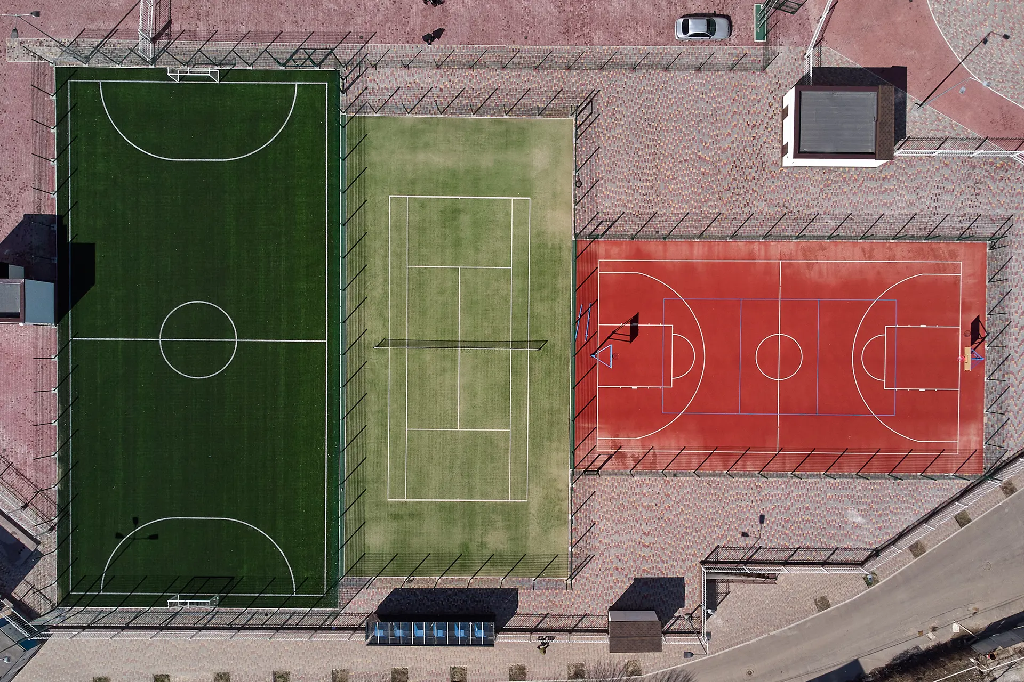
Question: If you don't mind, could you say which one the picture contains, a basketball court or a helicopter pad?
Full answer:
The one in the frame is a basketball court.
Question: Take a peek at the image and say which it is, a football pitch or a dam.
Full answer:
There is a football pitch in the scene.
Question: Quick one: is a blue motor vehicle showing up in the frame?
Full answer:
No, the photo shows no blue motor vehicle.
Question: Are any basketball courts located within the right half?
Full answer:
Yes, you'll find a basketball court within the right half.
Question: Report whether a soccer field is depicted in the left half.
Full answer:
Yes, a soccer field is visible in the left half.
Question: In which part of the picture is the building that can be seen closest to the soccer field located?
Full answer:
You can find the building that can be seen closest to the soccer field in the left area of the picture.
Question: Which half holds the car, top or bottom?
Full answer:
The car sits in the top half of the picture.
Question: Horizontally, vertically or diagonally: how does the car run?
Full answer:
In this picture, the car lies horizontally.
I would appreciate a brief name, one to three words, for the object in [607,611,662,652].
shed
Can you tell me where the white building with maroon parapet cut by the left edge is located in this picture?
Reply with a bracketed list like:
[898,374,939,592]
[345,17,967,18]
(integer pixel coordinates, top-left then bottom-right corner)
[0,278,56,326]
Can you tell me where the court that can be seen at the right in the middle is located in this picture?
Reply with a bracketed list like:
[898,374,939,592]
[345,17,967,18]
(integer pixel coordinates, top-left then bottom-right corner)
[573,240,987,474]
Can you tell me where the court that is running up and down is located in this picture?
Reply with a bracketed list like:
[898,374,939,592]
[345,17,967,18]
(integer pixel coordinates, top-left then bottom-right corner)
[345,116,573,577]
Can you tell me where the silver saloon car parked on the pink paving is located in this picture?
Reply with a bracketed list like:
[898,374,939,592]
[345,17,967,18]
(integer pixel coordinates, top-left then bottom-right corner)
[674,11,731,40]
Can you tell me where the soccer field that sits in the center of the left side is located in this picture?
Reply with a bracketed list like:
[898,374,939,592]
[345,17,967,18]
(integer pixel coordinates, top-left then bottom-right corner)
[56,67,339,608]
